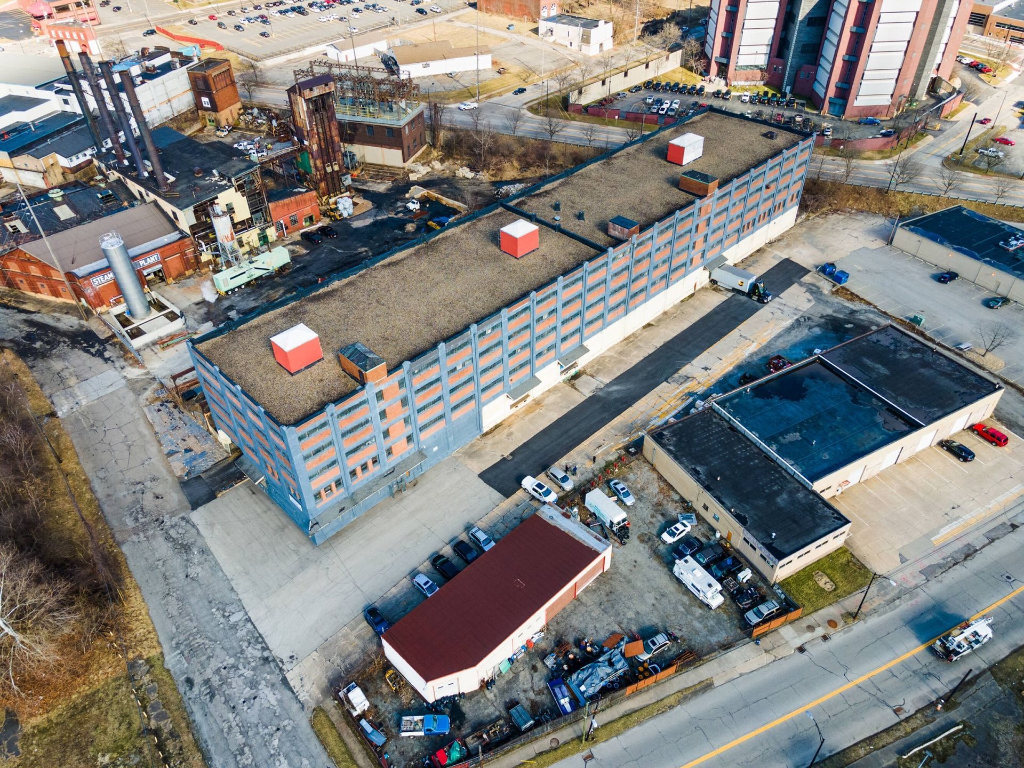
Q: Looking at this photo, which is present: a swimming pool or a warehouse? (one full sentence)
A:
Visible in the photo is a warehouse.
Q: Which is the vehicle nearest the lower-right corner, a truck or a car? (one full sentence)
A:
I'd identify the vehicle nearest the lower-right corner as a truck.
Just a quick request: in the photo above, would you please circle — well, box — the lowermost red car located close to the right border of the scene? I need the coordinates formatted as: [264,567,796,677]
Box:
[971,419,1011,448]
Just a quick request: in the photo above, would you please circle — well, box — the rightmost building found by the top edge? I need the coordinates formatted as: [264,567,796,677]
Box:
[970,1,1024,45]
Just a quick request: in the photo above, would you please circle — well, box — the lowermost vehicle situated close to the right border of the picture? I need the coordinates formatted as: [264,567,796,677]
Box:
[932,611,997,661]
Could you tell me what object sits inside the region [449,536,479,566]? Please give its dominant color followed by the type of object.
black car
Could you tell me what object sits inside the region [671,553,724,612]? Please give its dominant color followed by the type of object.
white vehicle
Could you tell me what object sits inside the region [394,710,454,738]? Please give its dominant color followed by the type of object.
blue truck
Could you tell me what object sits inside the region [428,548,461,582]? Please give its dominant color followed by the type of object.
black car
